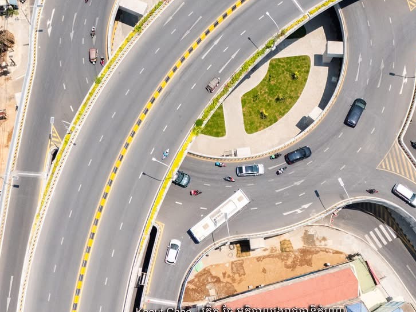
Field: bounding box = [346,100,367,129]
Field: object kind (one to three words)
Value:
car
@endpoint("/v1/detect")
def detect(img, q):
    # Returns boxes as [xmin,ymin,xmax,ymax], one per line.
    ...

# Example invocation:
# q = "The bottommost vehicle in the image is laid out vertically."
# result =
[166,238,182,269]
